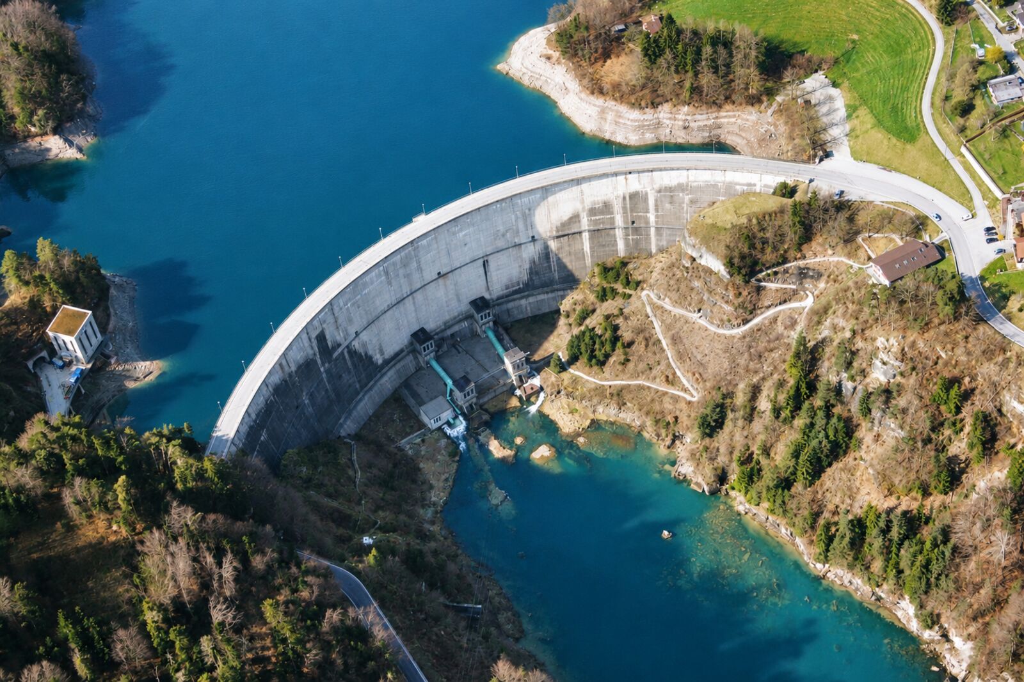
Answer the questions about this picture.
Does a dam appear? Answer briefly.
Yes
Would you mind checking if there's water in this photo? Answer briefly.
Yes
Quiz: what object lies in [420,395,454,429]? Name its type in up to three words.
house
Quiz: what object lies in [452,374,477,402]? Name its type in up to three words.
house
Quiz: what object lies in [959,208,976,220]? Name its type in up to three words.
vehicle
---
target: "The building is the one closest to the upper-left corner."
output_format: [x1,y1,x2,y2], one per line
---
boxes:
[47,304,109,366]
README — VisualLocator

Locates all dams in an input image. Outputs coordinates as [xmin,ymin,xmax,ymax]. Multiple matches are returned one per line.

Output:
[203,150,821,477]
